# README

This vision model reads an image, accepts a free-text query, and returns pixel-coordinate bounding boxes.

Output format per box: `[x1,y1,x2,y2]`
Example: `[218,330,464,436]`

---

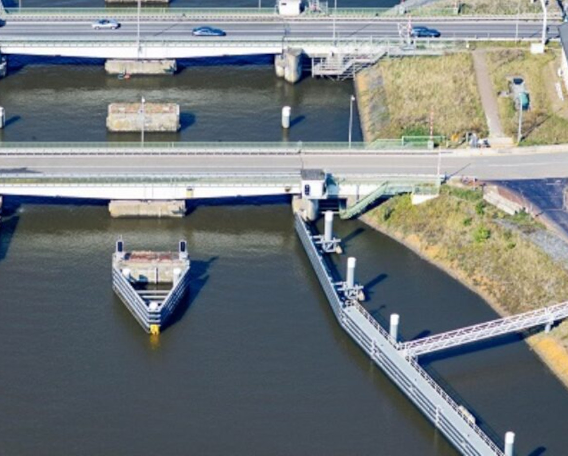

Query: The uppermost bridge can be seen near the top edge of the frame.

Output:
[0,5,484,82]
